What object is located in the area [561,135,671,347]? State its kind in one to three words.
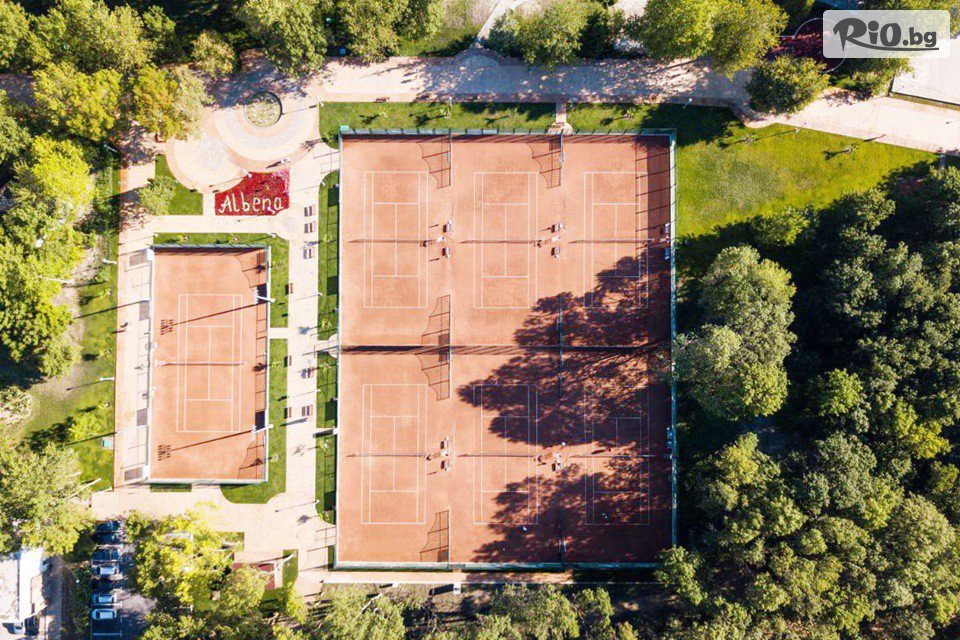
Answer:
tennis court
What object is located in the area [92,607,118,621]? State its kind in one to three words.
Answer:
car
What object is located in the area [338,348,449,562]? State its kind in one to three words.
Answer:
tennis court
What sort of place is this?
sports ground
